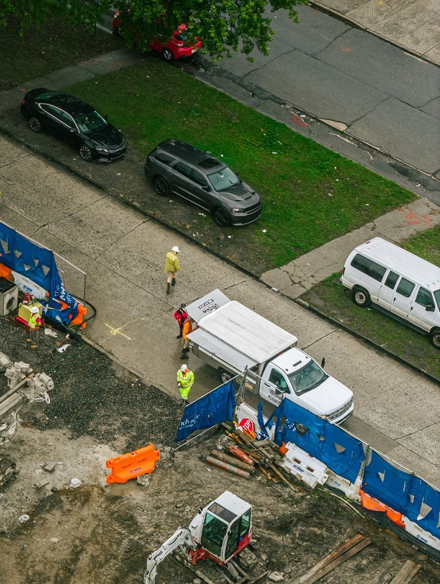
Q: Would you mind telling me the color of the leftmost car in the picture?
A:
black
